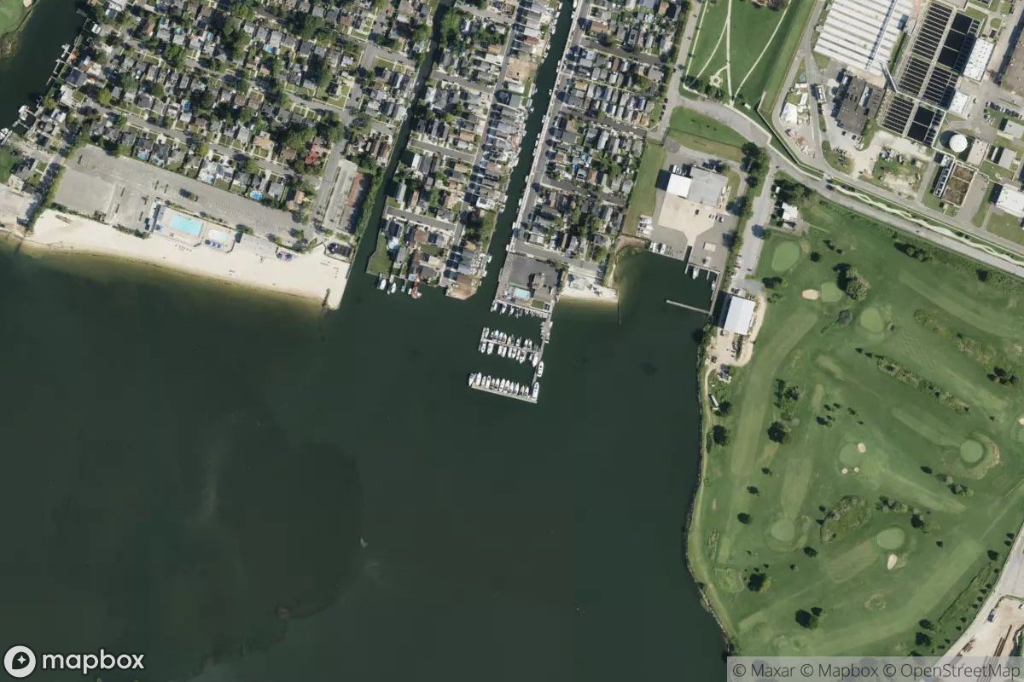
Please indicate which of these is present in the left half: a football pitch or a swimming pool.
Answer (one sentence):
The one visible in the left half is a swimming pool.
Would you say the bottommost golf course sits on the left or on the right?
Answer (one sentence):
The bottommost golf course appears in the right half of the scene.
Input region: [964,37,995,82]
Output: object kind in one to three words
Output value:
building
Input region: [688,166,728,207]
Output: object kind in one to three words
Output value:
building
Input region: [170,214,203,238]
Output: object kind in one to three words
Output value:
swimming pool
